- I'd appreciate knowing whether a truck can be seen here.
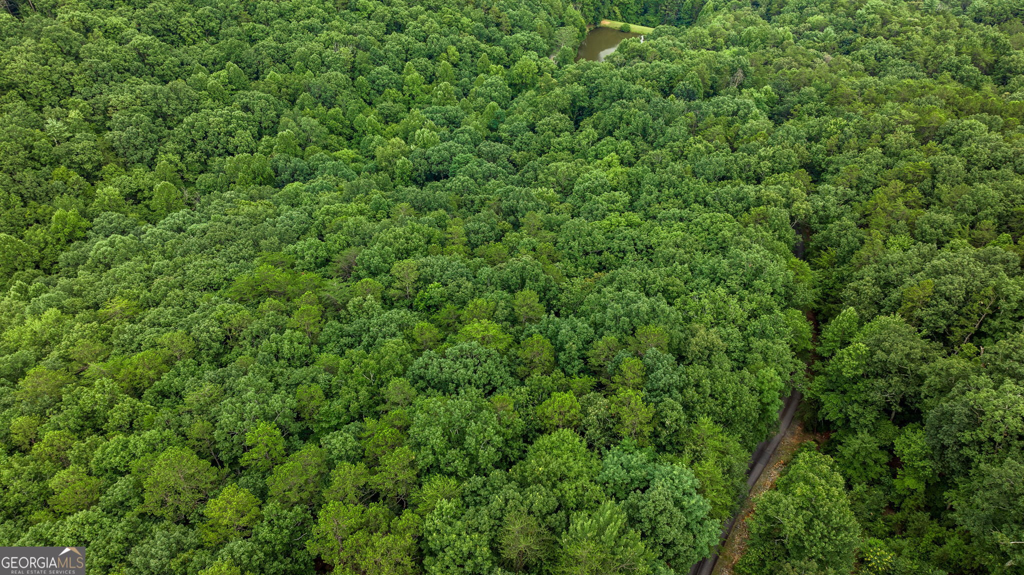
No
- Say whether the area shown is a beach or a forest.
forest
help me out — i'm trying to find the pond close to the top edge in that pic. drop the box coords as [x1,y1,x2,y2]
[574,27,656,73]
